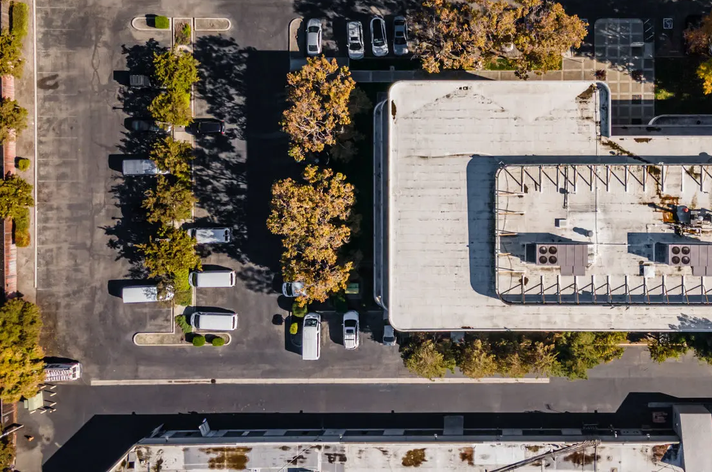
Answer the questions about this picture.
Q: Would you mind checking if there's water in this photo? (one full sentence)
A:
No, there's no water in this view.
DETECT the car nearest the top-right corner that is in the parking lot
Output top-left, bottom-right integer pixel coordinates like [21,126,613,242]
[392,16,409,55]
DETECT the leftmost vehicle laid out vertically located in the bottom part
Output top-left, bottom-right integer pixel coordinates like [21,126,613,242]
[301,312,321,363]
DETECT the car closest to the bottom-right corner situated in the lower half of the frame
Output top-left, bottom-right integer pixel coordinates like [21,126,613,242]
[381,315,398,347]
